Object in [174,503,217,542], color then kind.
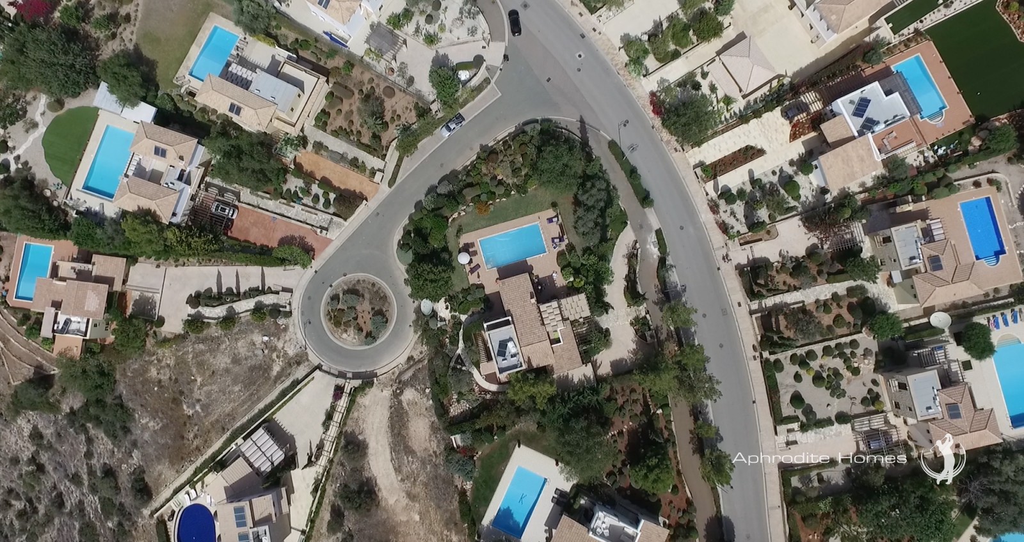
blue swimming pool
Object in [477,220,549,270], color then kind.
blue swimming pool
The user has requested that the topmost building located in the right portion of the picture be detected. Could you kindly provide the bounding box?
[785,0,893,50]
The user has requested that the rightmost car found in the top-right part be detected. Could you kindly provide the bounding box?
[780,99,808,120]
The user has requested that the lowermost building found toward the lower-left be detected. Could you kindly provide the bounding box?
[204,458,293,542]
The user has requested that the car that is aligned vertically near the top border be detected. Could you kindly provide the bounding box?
[507,8,522,37]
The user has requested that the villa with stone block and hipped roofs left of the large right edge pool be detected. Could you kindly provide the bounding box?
[886,363,1003,454]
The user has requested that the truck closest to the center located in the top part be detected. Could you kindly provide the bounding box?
[438,110,468,137]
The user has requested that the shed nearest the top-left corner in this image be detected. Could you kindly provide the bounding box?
[94,83,132,114]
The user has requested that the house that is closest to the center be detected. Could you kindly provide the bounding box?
[480,272,584,375]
